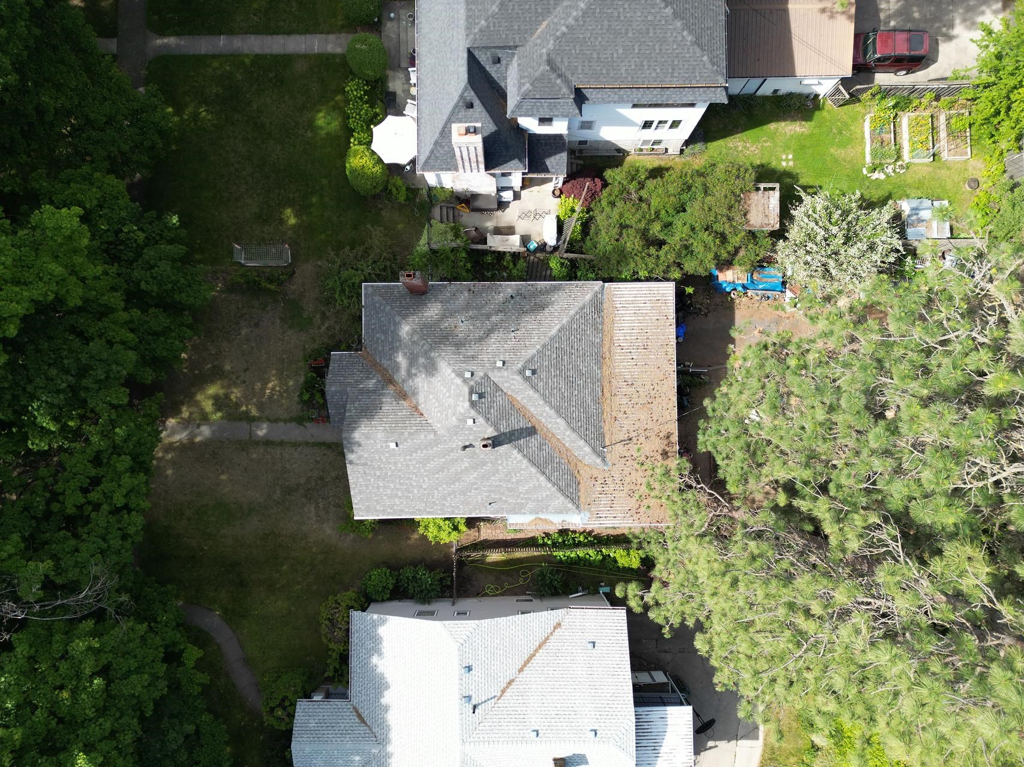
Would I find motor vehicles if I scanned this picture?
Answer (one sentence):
Yes, you can see a motor vehicle in this photo.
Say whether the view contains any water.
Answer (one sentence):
No, water can't be seen anywhere here.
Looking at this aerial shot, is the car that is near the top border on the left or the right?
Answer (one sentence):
You can find the car that is near the top border on the right side of the picture.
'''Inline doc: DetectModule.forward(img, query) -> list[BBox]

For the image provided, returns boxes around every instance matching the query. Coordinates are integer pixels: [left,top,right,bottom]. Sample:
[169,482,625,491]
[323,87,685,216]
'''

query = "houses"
[324,271,681,529]
[291,592,696,767]
[414,0,731,197]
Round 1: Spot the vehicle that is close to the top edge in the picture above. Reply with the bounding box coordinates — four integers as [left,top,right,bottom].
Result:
[853,29,929,74]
